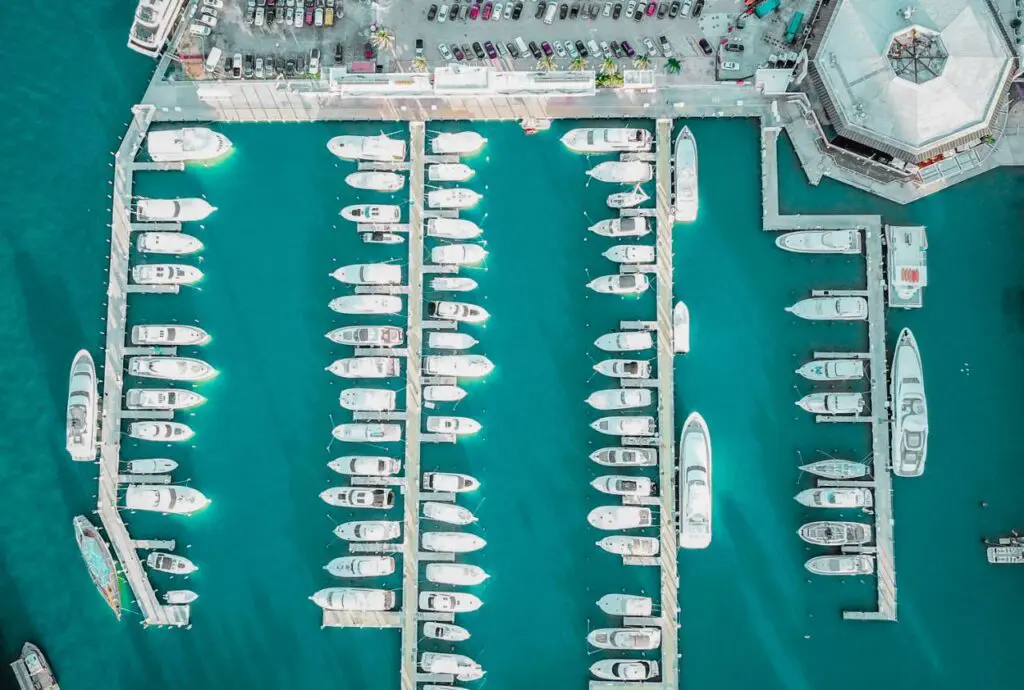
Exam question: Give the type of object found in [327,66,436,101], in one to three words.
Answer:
building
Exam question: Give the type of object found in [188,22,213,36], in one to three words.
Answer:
vehicle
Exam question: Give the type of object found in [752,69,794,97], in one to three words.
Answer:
shed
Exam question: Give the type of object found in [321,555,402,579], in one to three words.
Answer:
boat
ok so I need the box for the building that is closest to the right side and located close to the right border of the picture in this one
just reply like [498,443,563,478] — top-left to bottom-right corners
[803,0,1014,166]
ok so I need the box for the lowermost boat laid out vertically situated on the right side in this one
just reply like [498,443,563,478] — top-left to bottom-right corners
[680,412,712,548]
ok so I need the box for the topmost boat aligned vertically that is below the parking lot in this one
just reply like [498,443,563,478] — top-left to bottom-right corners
[674,124,698,223]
